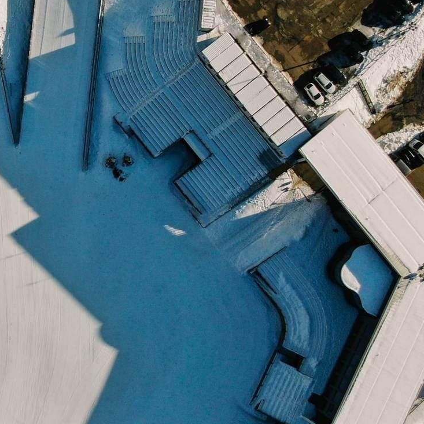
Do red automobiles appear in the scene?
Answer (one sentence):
No, there isn't any red automobile down there.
